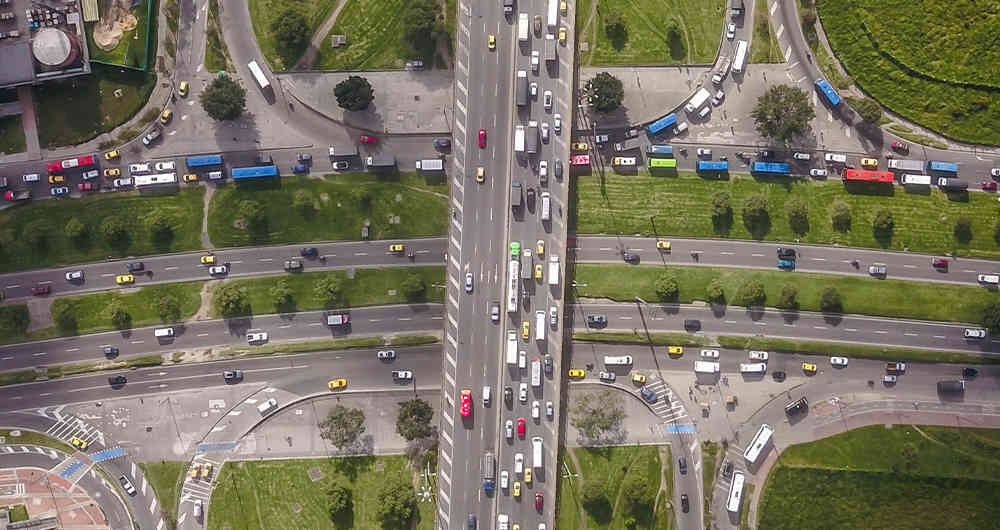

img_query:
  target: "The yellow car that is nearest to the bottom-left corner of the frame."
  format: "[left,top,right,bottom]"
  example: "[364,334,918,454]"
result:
[71,434,89,448]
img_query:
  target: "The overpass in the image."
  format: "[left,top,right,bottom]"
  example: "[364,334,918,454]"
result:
[437,0,576,530]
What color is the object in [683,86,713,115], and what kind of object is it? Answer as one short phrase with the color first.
white truck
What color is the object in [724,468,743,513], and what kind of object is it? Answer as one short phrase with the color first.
white vehicle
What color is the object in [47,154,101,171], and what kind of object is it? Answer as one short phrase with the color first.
red vehicle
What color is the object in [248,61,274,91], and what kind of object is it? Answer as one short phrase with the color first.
white bus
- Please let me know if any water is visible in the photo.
No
